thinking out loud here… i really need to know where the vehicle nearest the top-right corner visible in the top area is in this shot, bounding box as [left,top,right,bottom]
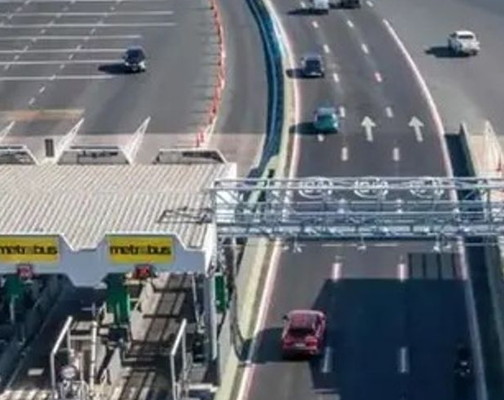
[449,33,474,55]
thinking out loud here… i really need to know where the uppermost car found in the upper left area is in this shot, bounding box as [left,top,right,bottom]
[124,48,151,70]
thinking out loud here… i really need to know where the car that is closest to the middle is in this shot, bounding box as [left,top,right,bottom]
[313,106,341,130]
